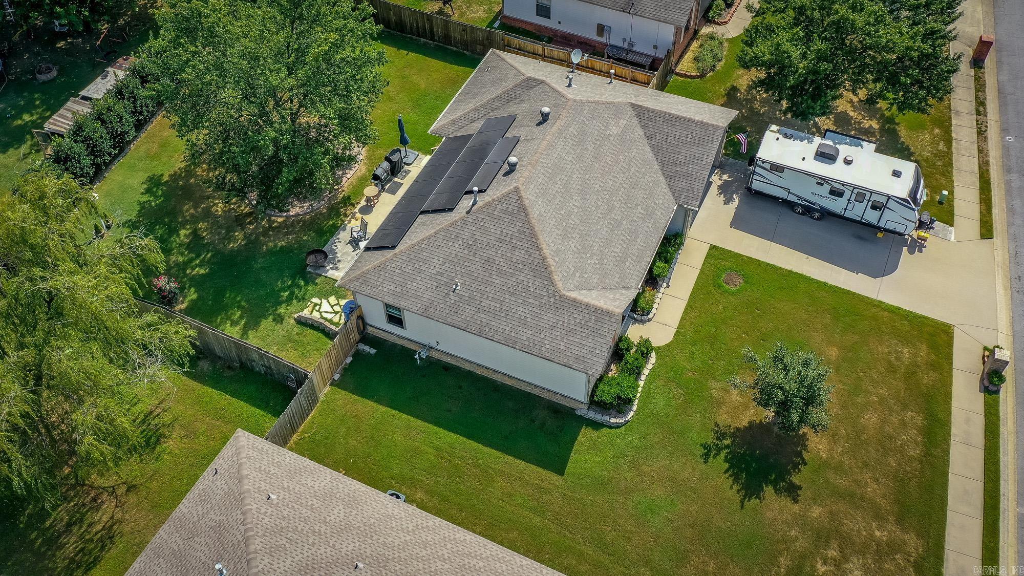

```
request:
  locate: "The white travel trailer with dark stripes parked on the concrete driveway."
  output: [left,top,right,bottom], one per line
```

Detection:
[744,125,946,240]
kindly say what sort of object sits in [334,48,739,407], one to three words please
house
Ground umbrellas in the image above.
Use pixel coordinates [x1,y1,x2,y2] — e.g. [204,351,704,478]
[402,114,424,166]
